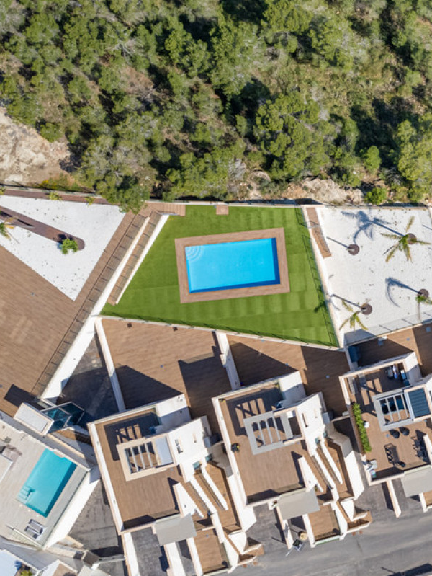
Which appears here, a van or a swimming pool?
swimming pool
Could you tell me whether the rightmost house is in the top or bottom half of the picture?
bottom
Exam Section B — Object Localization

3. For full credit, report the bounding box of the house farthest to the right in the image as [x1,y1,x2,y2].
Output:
[339,351,432,516]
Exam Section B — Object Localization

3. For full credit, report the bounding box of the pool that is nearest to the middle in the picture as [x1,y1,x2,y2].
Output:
[175,227,290,304]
